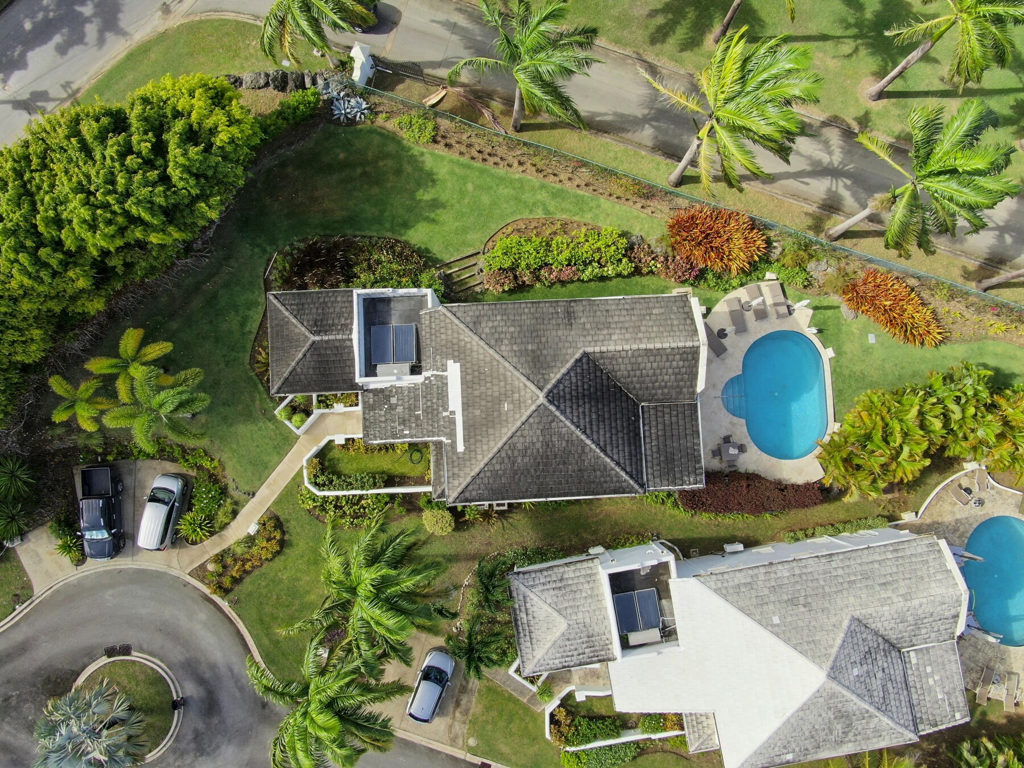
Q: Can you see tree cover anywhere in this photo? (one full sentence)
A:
Yes, some tree cover is visible.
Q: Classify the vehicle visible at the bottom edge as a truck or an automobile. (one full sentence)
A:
Looking closely, the vehicle visible at the bottom edge is an automobile.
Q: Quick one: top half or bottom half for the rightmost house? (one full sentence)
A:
The rightmost house is in the bottom half of the image.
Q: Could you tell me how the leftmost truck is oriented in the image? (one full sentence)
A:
I'd say the leftmost truck is aligned vertically in the picture.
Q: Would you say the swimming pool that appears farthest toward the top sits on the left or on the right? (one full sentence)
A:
You can find the swimming pool that appears farthest toward the top on the right side of the picture.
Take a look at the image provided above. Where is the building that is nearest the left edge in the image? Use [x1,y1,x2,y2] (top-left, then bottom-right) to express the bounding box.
[266,283,711,507]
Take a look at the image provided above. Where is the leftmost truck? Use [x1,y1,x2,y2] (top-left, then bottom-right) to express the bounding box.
[78,455,132,559]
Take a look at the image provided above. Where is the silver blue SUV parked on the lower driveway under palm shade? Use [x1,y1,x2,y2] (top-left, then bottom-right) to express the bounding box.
[408,642,456,730]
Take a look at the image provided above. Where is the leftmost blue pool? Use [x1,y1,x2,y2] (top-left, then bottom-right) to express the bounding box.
[713,324,835,466]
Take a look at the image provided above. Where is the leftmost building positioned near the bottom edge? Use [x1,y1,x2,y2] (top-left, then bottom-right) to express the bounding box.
[508,526,978,768]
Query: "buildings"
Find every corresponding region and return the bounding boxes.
[266,283,711,507]
[508,526,978,768]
